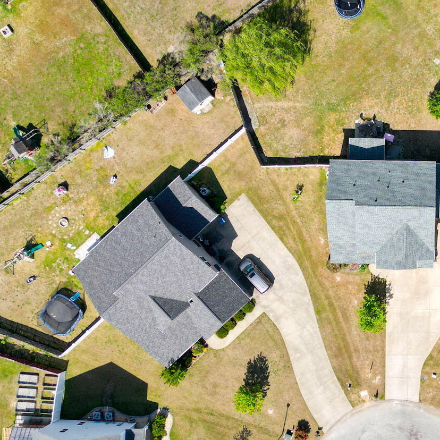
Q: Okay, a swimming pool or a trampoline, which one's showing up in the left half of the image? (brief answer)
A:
trampoline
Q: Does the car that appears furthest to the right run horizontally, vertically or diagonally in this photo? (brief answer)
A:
diagonally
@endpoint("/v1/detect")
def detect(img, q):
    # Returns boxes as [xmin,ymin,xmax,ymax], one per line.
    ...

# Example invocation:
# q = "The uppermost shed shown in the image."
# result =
[176,77,218,113]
